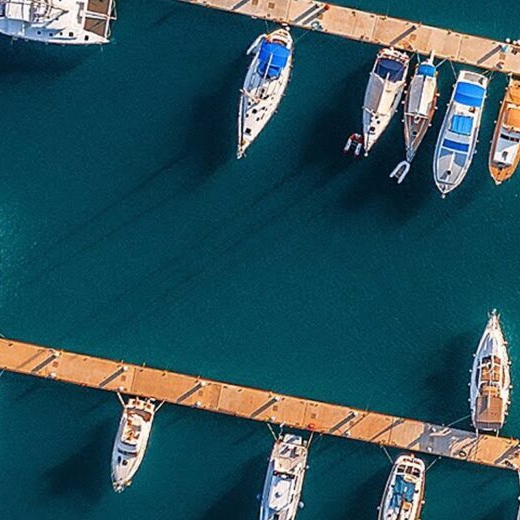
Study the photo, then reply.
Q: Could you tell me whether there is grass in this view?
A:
No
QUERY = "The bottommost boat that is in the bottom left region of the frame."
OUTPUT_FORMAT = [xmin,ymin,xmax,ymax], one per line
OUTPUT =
[110,393,163,496]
